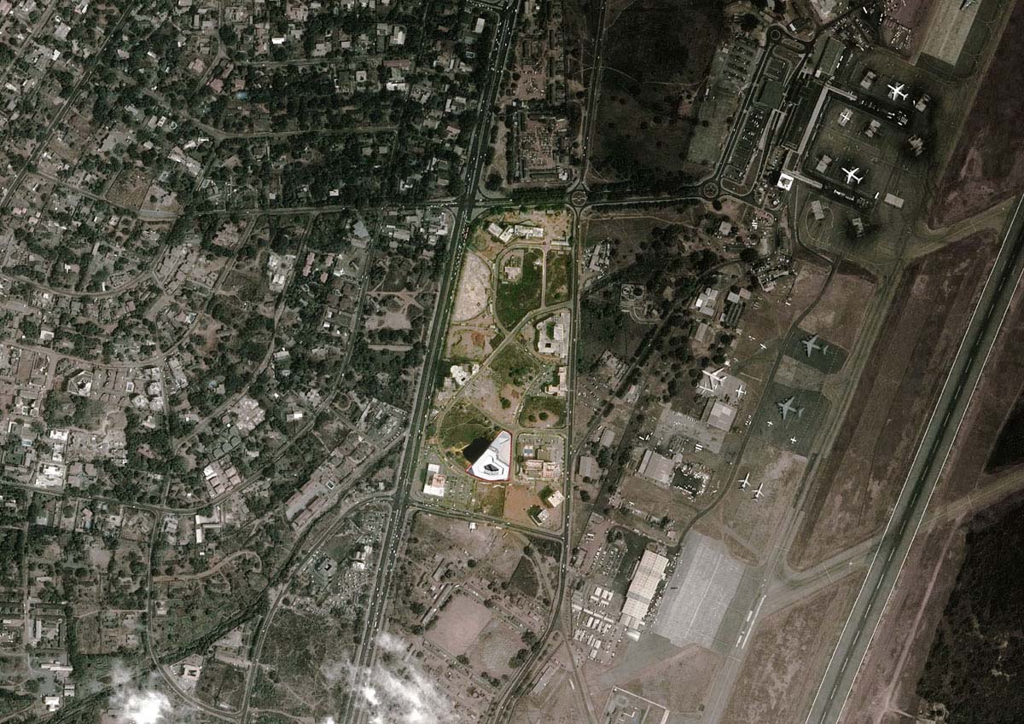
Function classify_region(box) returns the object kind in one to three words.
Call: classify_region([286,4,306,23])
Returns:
house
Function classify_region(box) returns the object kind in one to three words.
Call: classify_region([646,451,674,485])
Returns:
hangar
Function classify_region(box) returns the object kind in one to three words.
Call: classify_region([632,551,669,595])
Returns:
hangar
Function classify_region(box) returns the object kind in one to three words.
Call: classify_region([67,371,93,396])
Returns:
building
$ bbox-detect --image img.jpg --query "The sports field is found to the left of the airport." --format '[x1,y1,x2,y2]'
[425,595,492,655]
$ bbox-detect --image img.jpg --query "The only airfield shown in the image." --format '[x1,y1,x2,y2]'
[601,0,1024,724]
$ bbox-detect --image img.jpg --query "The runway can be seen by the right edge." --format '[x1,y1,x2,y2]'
[805,191,1024,724]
